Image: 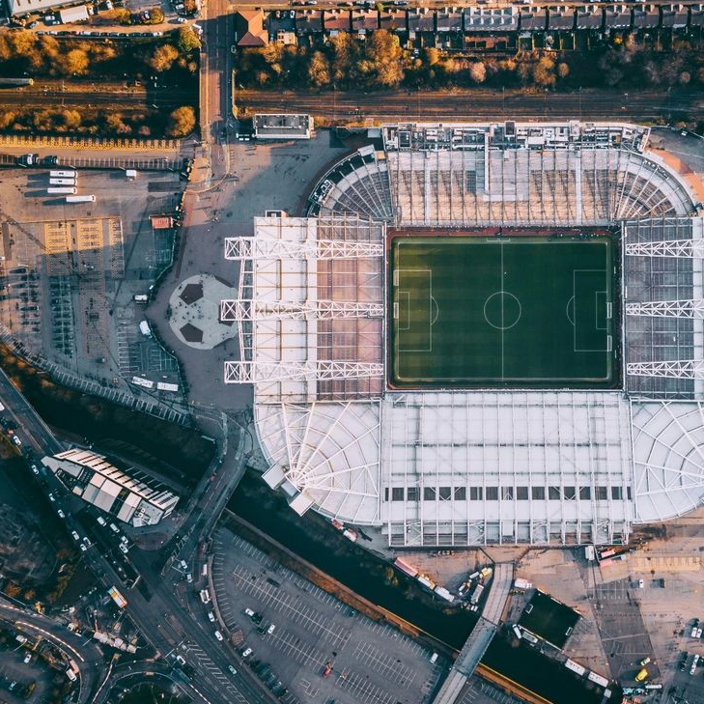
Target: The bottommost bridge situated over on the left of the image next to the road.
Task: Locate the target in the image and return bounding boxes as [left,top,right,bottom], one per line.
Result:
[180,448,257,544]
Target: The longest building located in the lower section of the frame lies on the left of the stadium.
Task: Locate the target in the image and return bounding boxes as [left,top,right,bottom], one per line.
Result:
[41,447,182,528]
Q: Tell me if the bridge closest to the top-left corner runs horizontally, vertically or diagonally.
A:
vertically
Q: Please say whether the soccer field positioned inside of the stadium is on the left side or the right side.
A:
right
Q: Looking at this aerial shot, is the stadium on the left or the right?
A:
right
